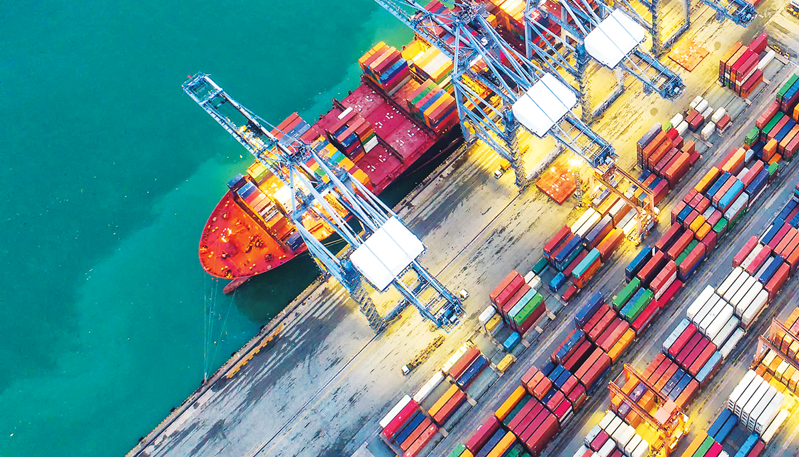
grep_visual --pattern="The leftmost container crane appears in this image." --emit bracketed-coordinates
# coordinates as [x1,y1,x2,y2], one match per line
[176,67,473,343]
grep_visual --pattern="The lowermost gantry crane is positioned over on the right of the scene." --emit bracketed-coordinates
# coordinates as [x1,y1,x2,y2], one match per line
[605,360,691,457]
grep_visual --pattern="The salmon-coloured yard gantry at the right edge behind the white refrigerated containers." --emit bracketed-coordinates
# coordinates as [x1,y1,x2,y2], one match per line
[751,313,799,370]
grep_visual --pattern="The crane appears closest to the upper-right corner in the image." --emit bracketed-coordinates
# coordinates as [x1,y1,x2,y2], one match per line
[602,0,760,59]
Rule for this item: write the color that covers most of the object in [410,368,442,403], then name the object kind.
white shipping container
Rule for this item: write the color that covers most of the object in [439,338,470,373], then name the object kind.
white shipping container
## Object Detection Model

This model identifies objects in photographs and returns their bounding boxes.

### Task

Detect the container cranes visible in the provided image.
[372,0,623,197]
[751,313,799,370]
[602,0,760,59]
[588,161,662,243]
[176,67,473,343]
[521,0,691,128]
[605,360,691,457]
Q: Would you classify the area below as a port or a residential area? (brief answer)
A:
port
